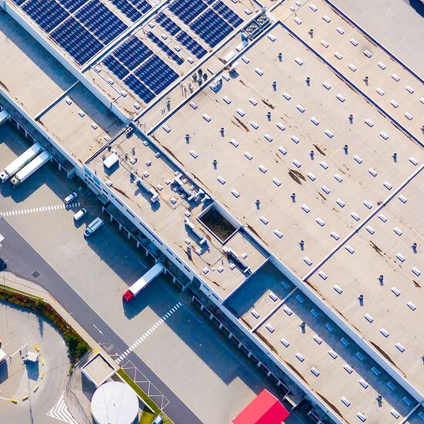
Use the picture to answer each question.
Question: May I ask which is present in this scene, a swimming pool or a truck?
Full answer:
This aerial view contains a truck.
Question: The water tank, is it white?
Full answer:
Yes, the water tank appears white.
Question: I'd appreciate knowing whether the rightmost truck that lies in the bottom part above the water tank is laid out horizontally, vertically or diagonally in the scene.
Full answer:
Seen from above, the rightmost truck that lies in the bottom part above the water tank lies diagonally.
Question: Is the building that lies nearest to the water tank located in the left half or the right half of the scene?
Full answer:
The building that lies nearest to the water tank is on the left side of the image.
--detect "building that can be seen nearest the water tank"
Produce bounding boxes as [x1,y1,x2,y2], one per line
[80,353,117,389]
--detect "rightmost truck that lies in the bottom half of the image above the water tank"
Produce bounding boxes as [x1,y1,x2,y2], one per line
[121,265,163,303]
